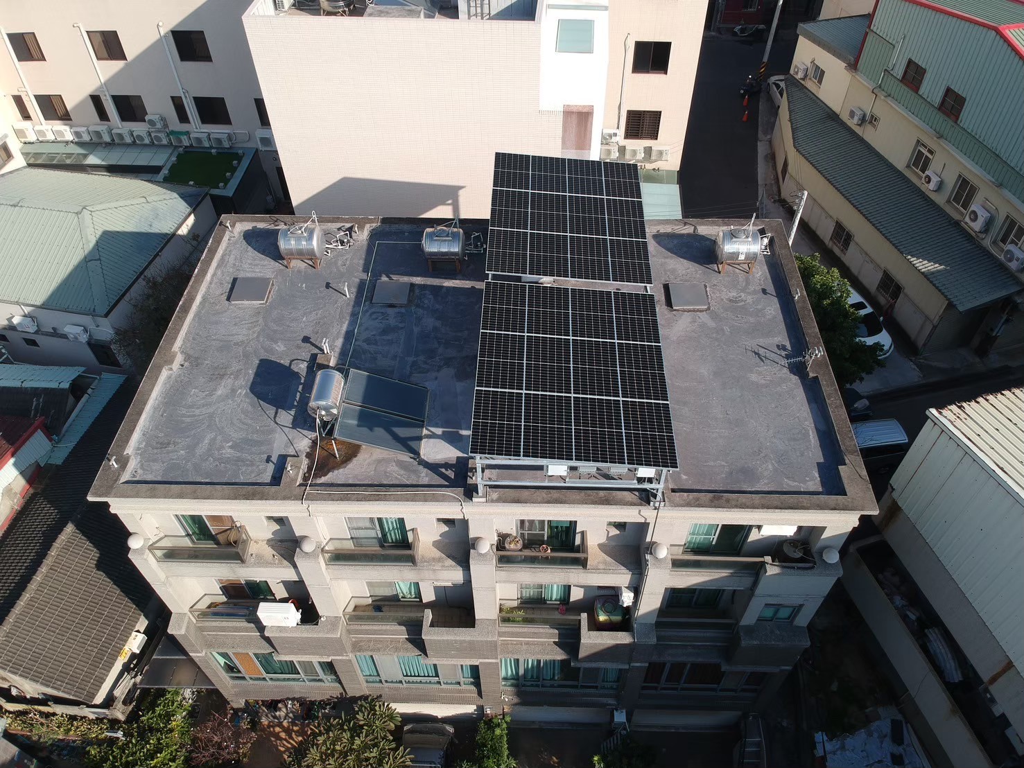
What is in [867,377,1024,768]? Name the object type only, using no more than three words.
warehouse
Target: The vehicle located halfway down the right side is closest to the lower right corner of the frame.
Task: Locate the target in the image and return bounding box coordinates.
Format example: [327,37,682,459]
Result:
[852,420,906,477]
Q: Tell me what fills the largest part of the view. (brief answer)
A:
buildings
